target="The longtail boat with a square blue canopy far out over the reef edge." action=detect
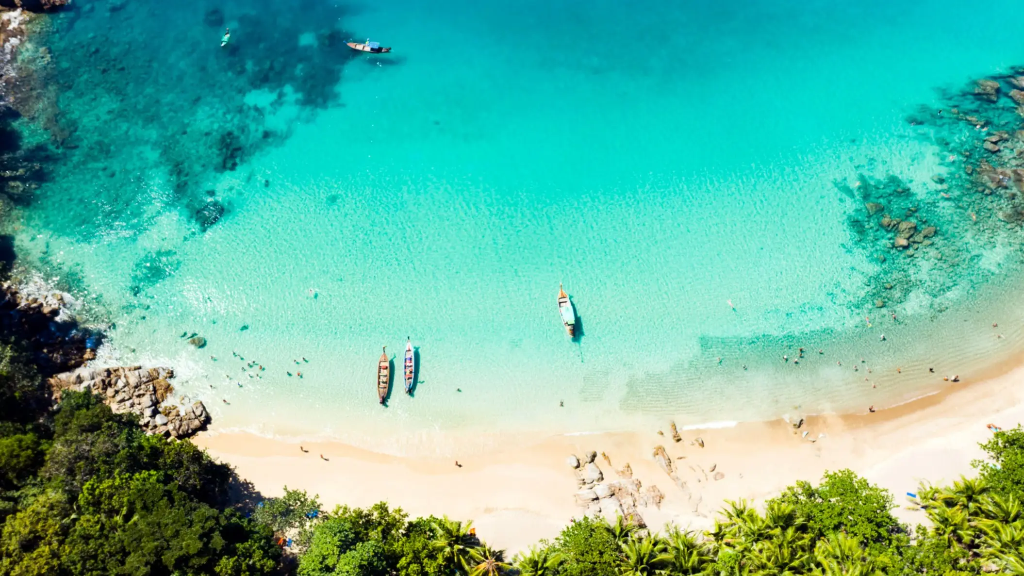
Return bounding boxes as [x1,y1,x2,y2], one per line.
[347,40,394,56]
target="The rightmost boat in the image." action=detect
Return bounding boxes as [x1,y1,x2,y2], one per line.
[559,288,576,345]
